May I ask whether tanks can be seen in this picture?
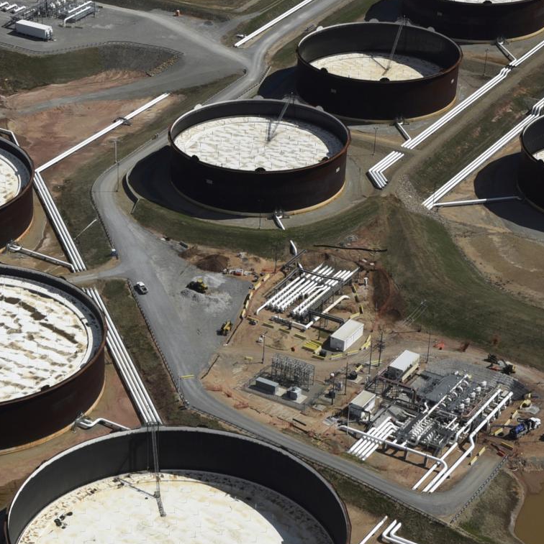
Yes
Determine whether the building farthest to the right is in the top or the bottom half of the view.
bottom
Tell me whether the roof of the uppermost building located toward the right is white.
Yes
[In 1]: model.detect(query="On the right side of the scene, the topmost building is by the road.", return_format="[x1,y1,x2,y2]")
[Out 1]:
[330,319,364,350]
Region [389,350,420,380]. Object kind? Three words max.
building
